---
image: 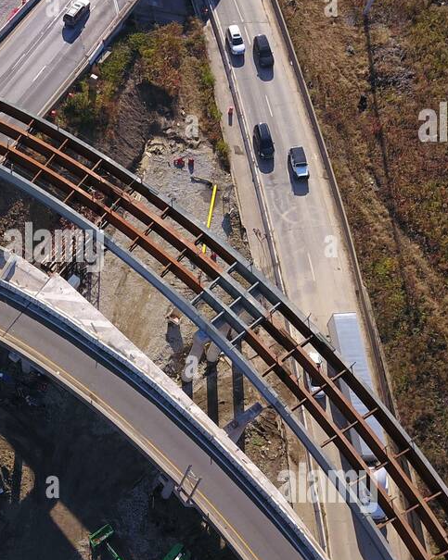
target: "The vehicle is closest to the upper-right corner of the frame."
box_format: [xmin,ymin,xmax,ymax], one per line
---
[254,32,275,65]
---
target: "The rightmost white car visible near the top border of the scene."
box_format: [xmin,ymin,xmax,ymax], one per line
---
[227,24,247,52]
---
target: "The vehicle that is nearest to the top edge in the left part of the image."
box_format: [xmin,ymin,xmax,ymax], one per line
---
[62,0,92,24]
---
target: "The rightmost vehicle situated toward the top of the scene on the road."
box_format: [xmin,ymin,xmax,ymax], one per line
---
[288,145,308,176]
